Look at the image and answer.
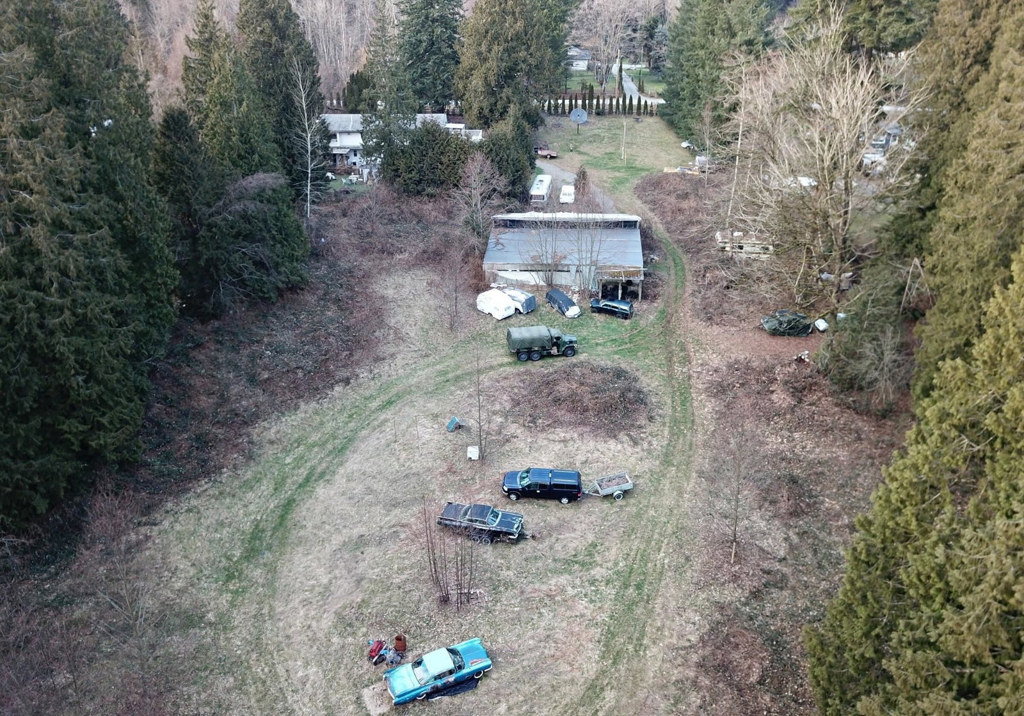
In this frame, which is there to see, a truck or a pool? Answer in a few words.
truck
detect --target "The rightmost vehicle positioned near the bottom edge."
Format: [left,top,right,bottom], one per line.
[393,634,502,707]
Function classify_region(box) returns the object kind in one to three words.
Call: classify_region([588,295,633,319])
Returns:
car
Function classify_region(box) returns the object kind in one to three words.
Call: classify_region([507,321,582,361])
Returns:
truck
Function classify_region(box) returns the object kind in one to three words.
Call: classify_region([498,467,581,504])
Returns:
truck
